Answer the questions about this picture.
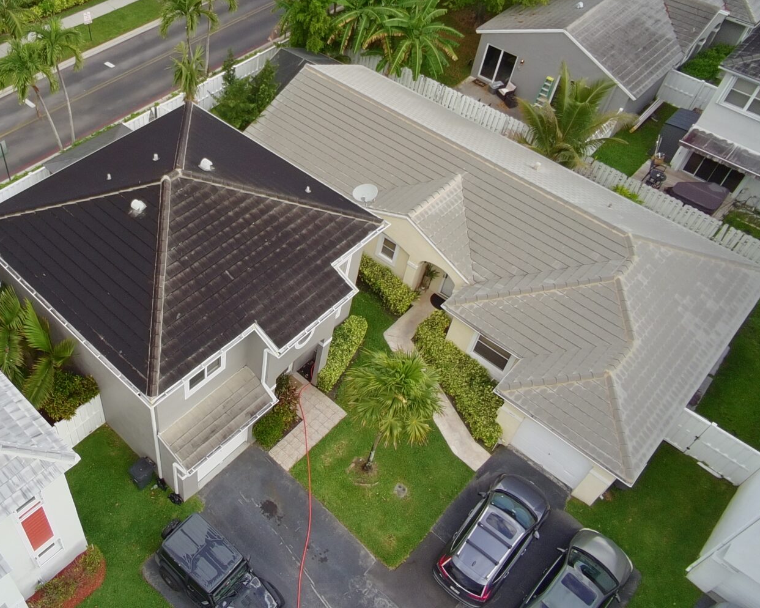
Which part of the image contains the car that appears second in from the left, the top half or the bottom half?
bottom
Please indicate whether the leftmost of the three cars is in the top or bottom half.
bottom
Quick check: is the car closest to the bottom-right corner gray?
Yes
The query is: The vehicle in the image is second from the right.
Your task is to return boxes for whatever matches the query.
[434,475,544,608]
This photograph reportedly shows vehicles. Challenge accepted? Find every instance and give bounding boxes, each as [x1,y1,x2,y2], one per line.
[158,512,276,608]
[434,475,544,608]
[527,532,628,608]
